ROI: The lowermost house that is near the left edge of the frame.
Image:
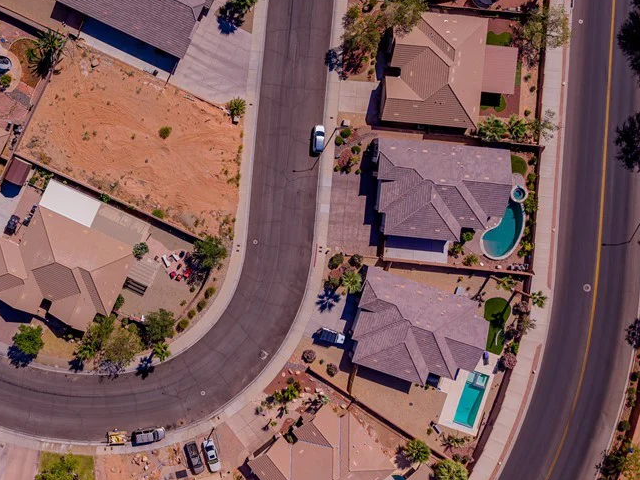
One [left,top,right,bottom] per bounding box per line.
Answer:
[0,205,133,331]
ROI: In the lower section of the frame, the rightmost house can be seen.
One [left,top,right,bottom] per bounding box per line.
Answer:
[351,266,490,386]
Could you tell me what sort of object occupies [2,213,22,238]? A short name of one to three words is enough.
car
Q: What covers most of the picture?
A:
paved ground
